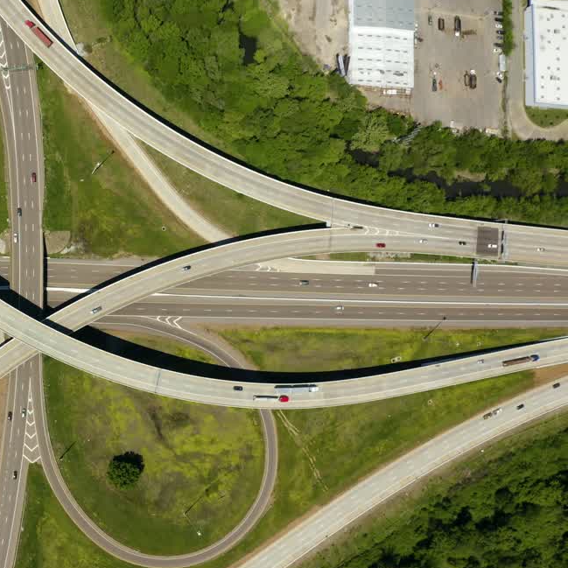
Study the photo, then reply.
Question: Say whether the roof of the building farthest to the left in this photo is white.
Yes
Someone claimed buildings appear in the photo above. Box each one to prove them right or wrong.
[520,4,568,108]
[346,0,415,90]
